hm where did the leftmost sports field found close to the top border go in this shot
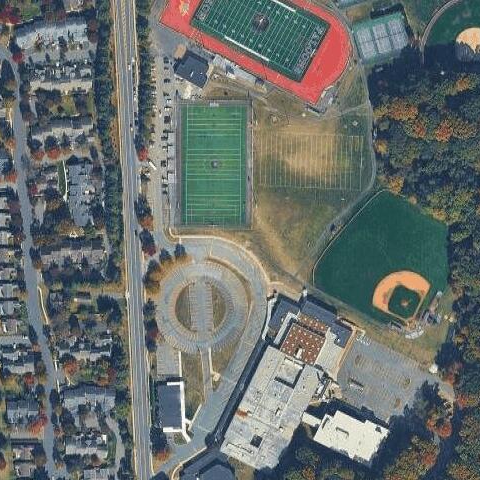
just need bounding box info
[190,0,330,82]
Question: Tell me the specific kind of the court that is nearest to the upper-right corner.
tennis court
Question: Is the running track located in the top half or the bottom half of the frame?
top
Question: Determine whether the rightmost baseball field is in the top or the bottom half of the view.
top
